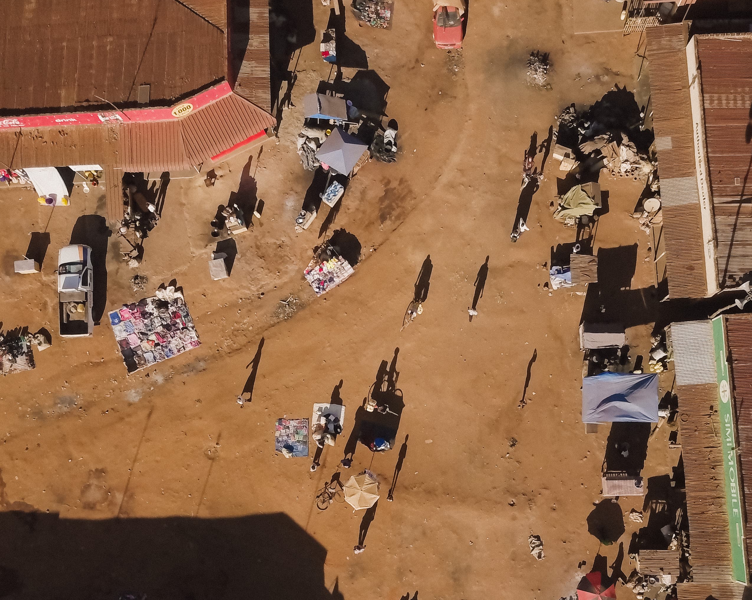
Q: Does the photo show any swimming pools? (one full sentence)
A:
No, there isn't any swimming pool down there.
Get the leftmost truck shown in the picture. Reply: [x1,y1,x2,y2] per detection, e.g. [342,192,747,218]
[53,246,94,340]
